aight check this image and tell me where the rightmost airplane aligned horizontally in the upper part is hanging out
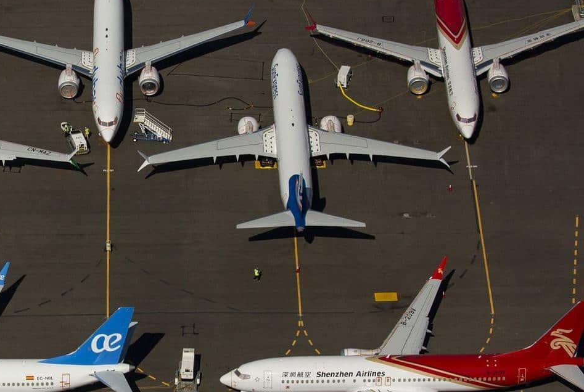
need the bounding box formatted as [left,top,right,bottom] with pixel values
[304,0,584,140]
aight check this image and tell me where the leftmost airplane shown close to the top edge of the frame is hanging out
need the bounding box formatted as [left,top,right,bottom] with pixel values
[0,0,254,143]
